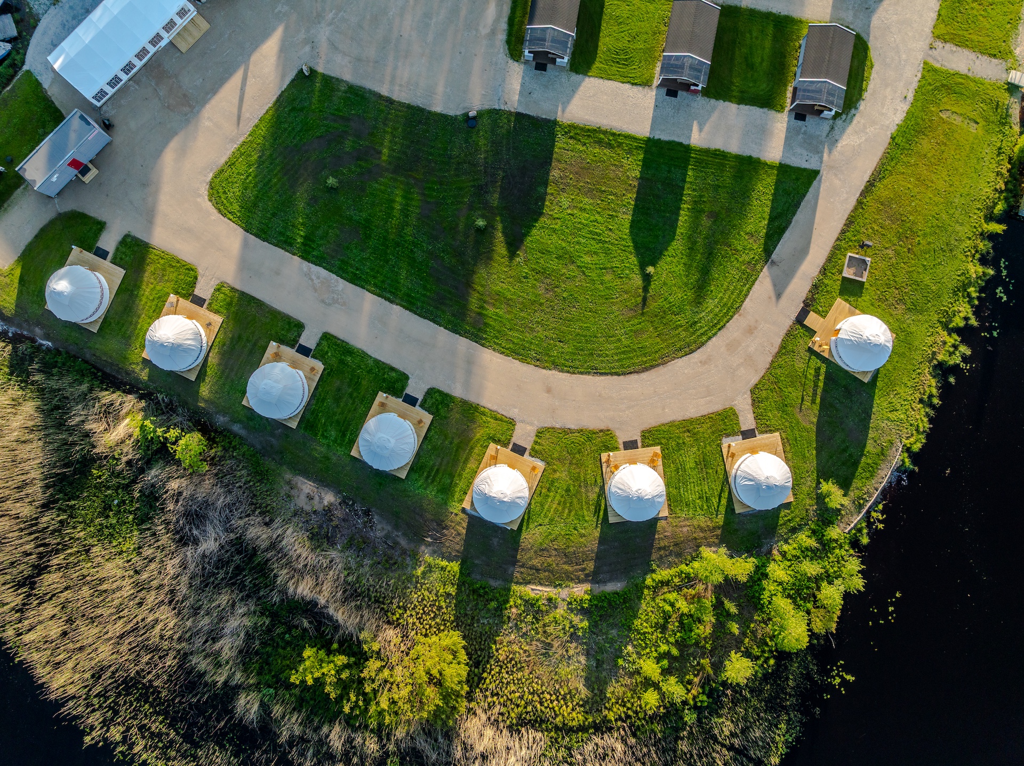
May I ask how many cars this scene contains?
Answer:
0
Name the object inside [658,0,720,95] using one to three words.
building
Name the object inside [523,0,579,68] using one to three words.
building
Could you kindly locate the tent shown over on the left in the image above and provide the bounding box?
[45,0,197,107]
